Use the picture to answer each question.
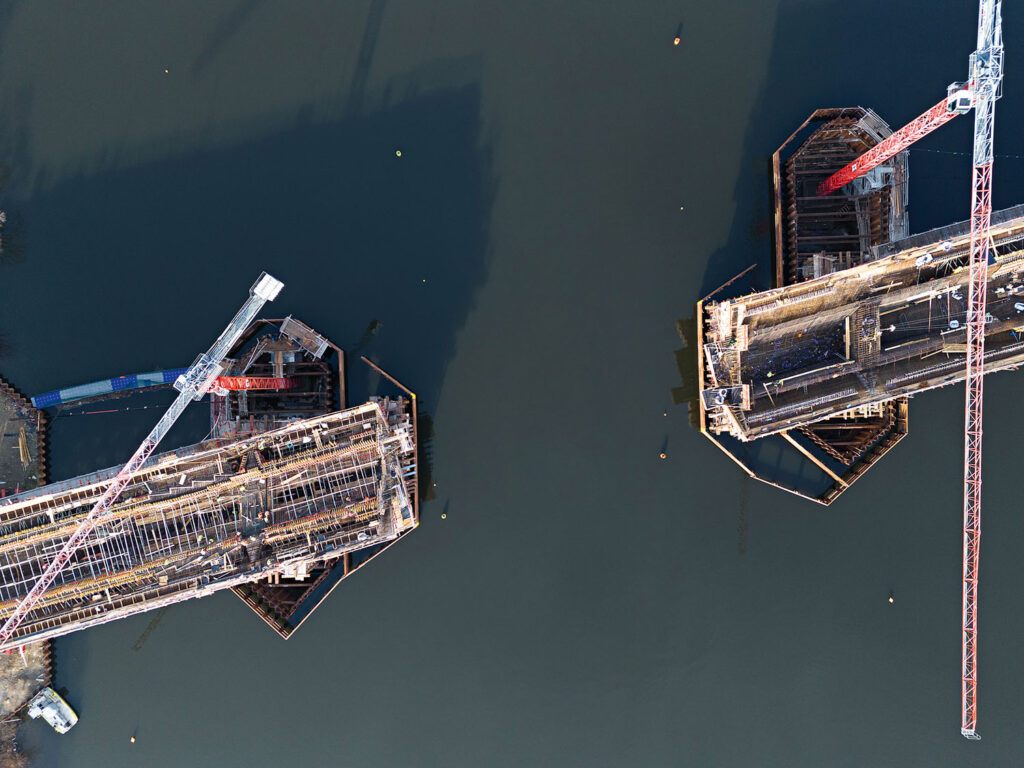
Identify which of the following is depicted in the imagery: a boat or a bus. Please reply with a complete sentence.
Of the two, only a boat appears.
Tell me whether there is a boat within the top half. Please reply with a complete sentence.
No, I see no boat within the top half.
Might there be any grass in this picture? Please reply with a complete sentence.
No, no grass is visible.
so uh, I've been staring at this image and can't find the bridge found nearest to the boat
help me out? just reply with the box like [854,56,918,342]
[0,398,420,653]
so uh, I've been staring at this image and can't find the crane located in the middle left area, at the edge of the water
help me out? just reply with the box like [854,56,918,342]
[0,271,306,658]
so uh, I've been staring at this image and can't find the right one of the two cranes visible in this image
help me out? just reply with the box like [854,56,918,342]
[820,0,1001,745]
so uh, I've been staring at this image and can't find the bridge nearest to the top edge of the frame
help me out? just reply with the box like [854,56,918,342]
[702,205,1024,441]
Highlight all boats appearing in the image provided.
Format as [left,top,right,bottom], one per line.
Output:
[26,683,79,735]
